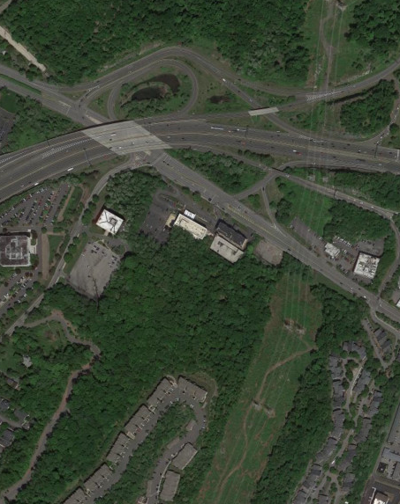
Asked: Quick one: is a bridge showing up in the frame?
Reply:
Yes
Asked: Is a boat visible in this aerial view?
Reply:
No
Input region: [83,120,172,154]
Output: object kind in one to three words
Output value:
bridge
